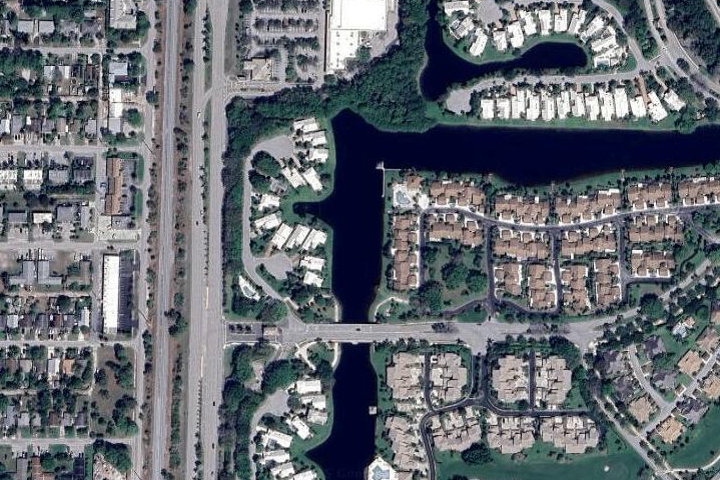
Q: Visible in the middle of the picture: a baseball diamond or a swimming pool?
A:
swimming pool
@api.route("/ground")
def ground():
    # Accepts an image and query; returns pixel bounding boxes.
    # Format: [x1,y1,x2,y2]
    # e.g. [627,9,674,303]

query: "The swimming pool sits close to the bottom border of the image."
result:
[368,457,398,480]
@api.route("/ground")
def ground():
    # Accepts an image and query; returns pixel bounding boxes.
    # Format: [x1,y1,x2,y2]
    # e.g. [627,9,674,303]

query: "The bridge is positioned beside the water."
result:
[336,322,375,343]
